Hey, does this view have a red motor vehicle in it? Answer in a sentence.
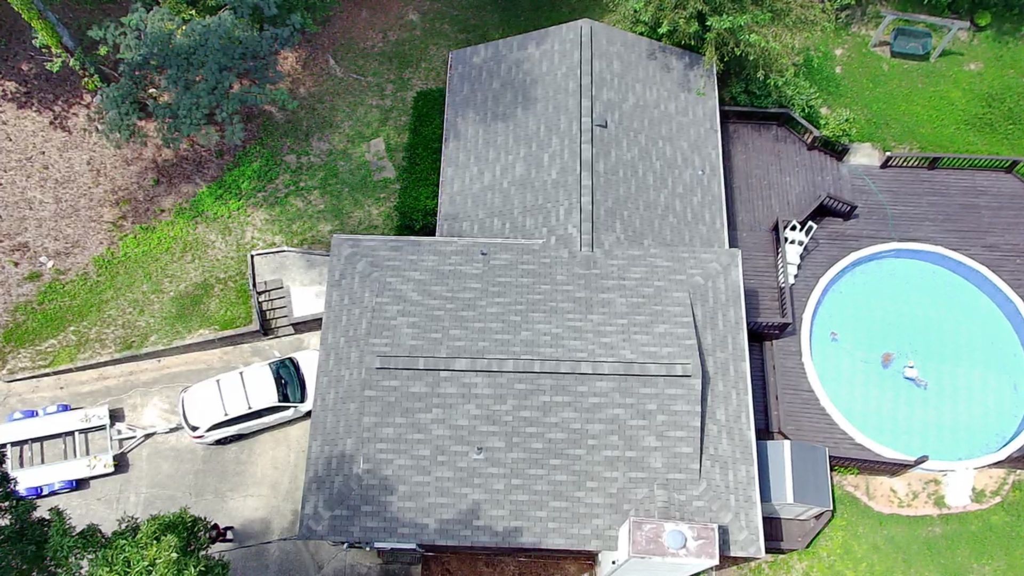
No, no red motor vehicle is visible in the view.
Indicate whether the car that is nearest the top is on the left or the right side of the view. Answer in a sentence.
You can find the car that is nearest the top on the left side of the picture.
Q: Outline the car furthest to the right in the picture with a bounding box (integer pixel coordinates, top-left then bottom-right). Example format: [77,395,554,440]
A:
[177,342,319,443]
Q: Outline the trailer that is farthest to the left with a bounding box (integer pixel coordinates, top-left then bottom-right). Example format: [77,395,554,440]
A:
[0,405,178,500]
